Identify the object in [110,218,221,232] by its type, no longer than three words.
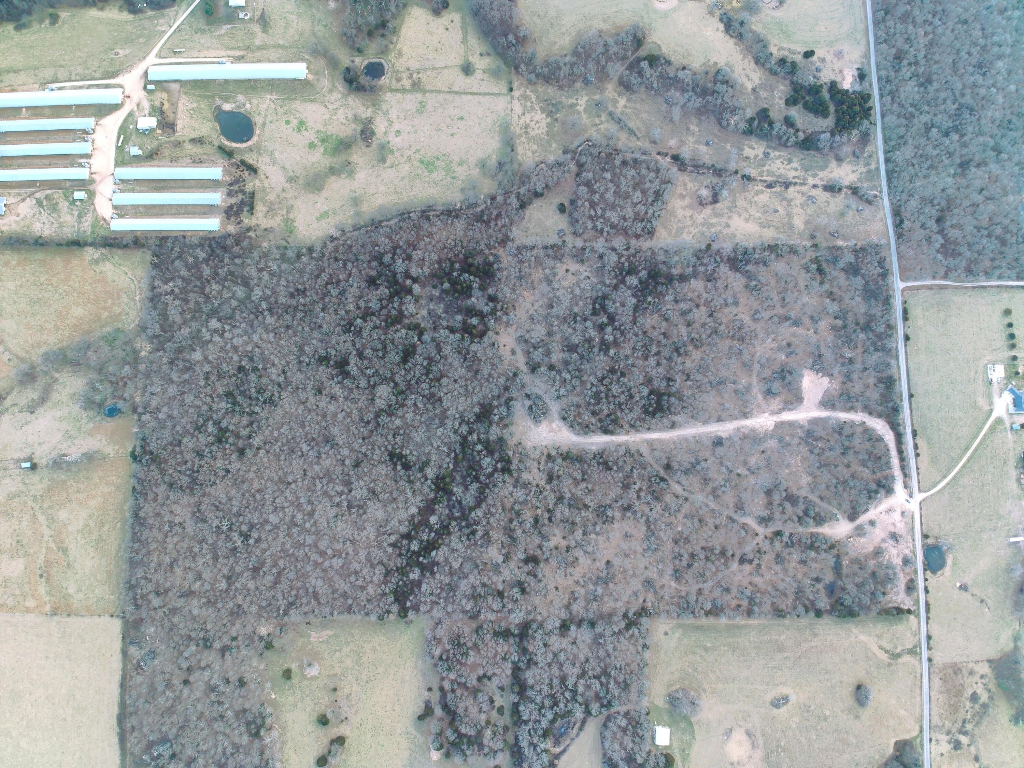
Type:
house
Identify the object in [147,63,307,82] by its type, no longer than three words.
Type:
house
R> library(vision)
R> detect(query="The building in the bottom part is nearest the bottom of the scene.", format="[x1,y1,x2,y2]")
[653,722,670,745]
